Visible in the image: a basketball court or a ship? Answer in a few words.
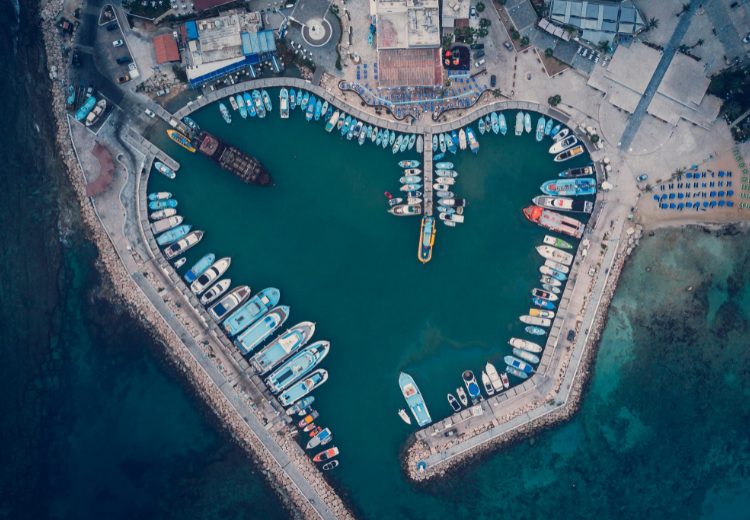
ship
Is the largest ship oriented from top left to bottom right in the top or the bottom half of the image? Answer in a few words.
top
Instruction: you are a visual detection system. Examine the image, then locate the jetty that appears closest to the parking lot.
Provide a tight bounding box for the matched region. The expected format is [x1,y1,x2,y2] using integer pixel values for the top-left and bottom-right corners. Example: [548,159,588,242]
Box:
[130,88,199,143]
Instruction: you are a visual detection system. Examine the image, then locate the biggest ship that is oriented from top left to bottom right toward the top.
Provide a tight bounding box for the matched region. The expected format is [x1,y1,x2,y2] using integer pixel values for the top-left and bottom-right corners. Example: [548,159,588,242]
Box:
[193,130,272,185]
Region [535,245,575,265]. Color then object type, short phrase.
white boat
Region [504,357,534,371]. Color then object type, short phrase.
blue boat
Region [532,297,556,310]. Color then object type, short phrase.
blue boat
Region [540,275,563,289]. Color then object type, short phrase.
white boat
